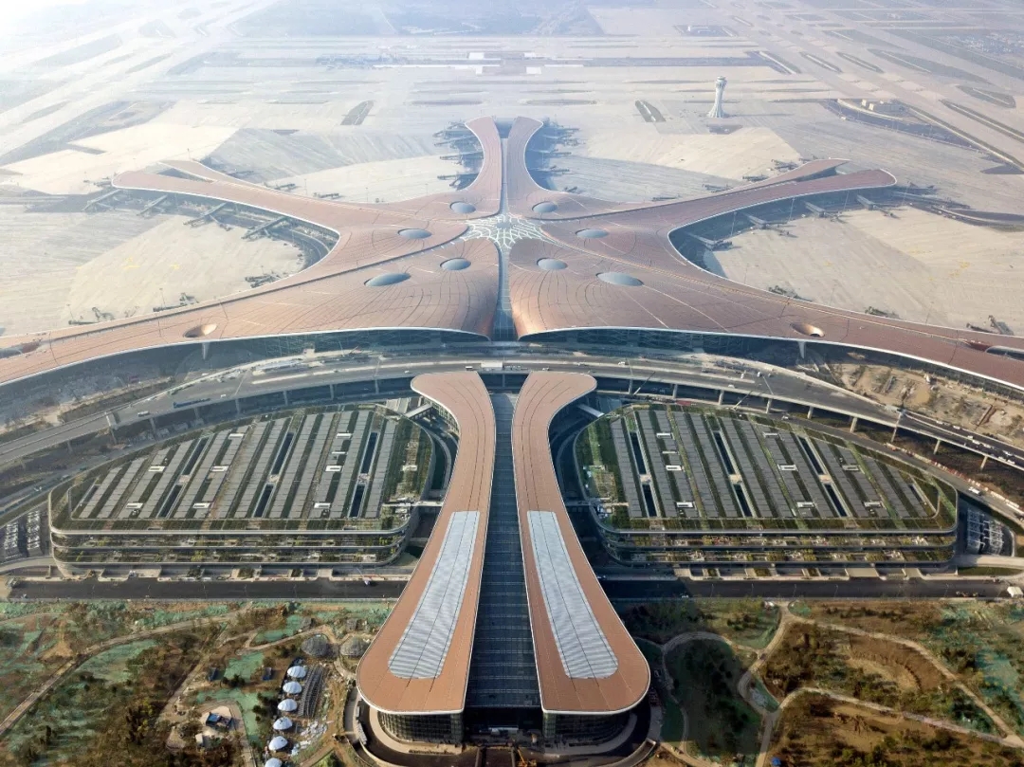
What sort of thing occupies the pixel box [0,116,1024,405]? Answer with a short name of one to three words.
building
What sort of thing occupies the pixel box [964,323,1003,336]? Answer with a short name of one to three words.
jet bridge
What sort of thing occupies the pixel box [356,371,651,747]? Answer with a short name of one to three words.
building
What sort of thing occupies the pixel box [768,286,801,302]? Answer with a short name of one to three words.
jet bridge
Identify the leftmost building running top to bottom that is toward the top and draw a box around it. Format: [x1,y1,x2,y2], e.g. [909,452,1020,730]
[708,76,730,120]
